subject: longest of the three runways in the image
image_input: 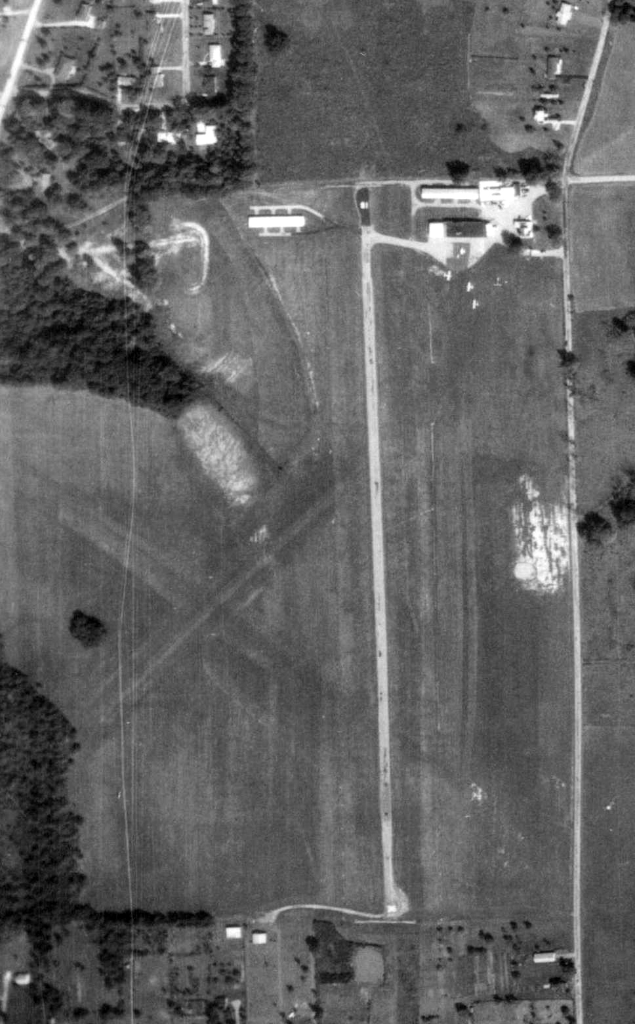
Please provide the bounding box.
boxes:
[361,225,394,913]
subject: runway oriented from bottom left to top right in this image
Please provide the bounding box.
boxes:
[122,486,338,703]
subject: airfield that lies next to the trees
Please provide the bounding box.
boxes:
[60,181,547,918]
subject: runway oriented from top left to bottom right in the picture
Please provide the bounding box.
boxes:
[60,504,276,726]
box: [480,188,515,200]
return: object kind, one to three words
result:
hangar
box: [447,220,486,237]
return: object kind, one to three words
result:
hangar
